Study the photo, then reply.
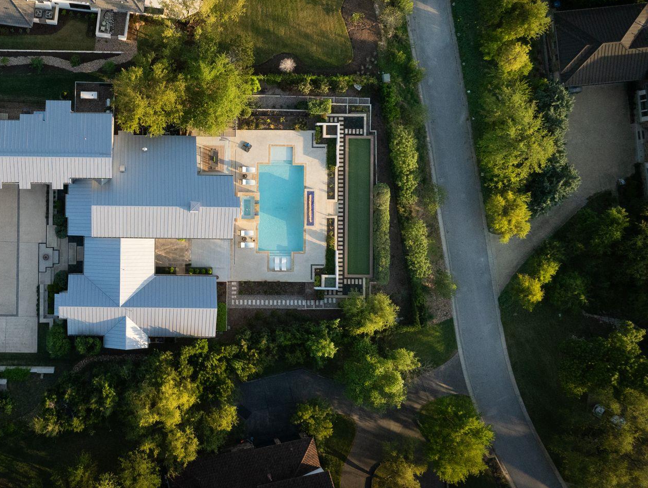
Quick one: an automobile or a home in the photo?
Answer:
home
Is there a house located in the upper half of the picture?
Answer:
Yes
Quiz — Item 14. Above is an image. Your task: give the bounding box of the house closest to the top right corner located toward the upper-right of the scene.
[545,2,648,88]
